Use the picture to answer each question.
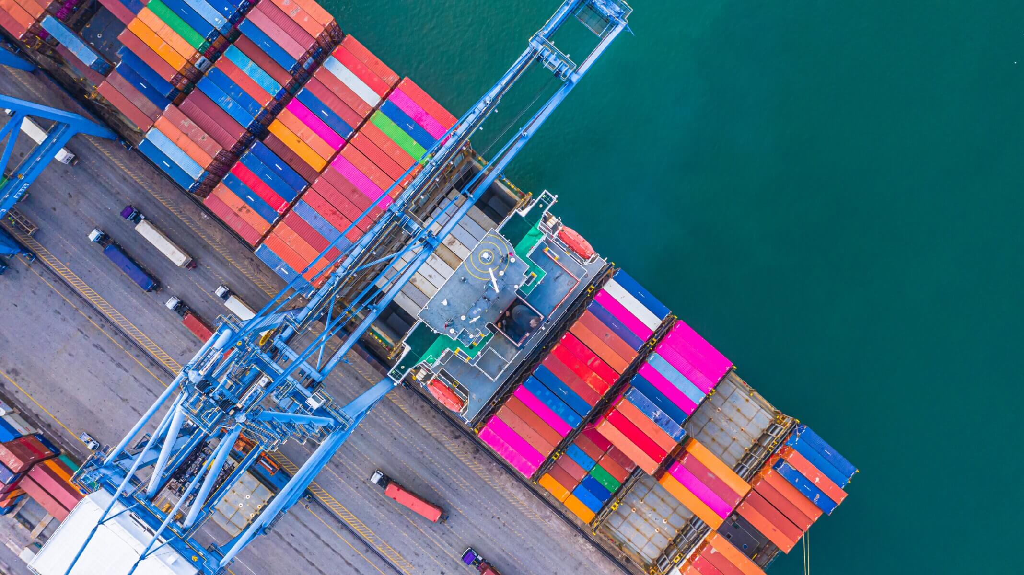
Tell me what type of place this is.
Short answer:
port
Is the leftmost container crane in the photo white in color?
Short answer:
No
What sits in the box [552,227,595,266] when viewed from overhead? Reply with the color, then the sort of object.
red boat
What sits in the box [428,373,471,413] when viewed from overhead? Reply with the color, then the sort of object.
red boat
